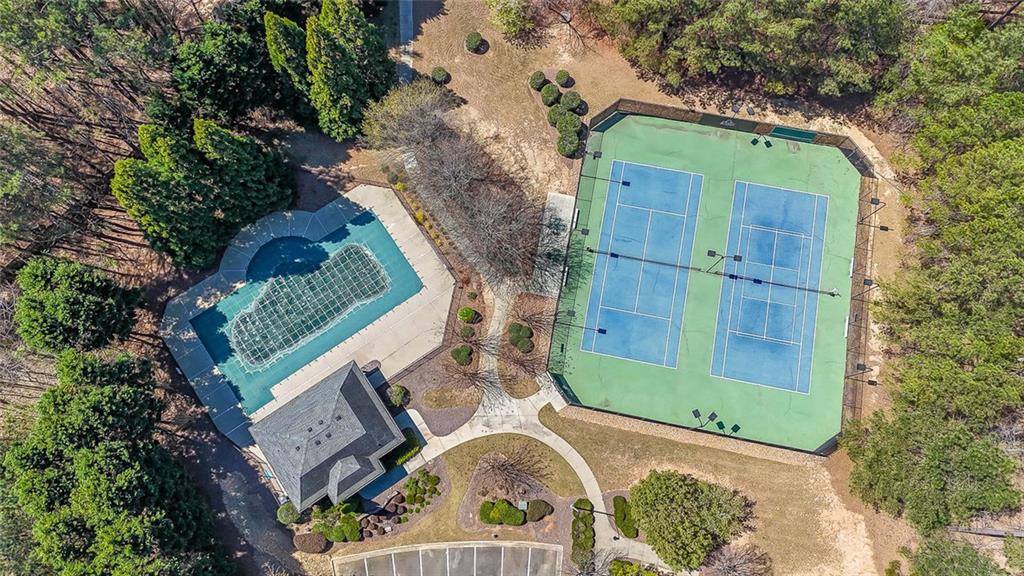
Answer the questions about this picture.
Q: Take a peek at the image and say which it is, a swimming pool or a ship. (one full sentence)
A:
There is a swimming pool in the scene.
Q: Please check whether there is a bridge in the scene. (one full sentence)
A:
No, I find no bridge anywhere in the image.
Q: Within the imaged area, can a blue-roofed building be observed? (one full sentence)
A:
No, this view has no blue-roofed building in it.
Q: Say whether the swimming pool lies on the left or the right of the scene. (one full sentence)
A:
It is on the left.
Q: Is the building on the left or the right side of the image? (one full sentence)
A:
The building is on the left side of the image.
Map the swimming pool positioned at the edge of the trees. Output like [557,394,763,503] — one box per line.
[160,184,456,482]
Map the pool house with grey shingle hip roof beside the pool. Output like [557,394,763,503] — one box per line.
[249,359,406,514]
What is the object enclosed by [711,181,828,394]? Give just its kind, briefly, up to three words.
tennis court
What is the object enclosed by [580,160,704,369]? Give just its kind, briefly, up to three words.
tennis court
